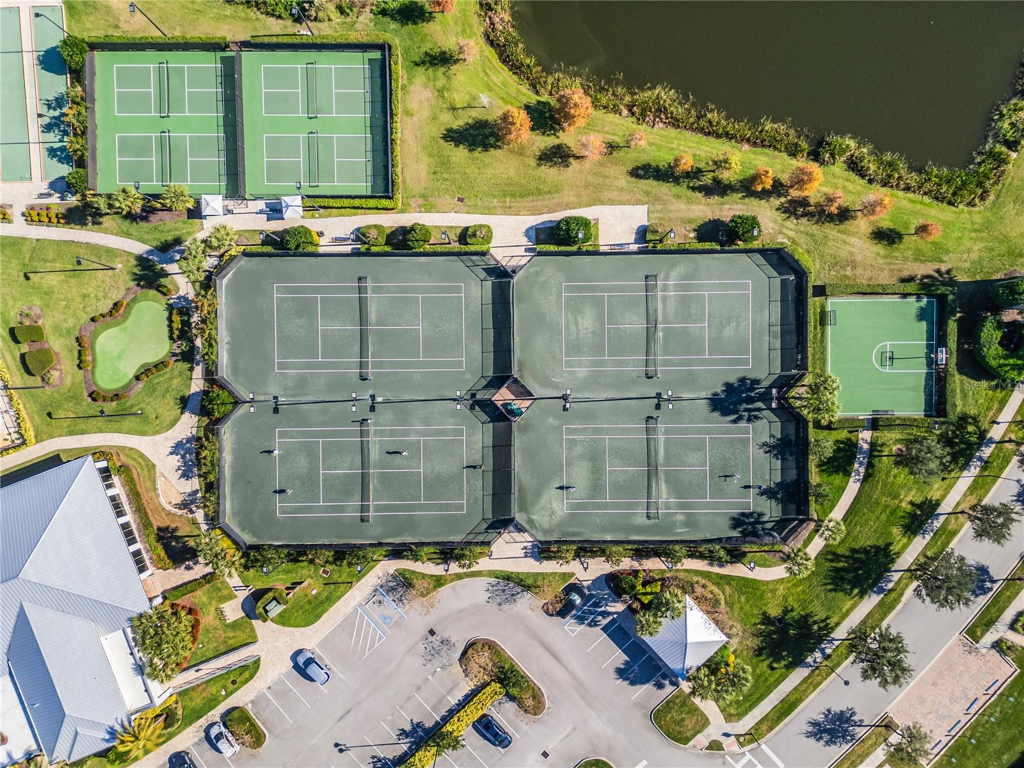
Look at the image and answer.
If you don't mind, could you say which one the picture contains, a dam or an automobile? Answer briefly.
automobile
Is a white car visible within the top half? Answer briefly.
No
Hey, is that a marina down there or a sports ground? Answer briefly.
sports ground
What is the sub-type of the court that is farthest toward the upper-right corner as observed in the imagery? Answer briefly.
basketball court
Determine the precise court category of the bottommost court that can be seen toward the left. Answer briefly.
tennis court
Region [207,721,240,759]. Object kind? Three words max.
car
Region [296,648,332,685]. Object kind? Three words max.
car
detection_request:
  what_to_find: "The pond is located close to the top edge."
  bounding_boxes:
[509,0,1024,182]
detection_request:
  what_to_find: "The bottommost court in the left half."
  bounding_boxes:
[225,399,515,545]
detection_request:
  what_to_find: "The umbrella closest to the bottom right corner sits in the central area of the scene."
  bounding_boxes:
[507,402,522,417]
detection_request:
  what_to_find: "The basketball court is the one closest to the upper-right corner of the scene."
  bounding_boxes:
[827,297,936,417]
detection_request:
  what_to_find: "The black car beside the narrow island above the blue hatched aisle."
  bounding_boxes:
[555,585,591,620]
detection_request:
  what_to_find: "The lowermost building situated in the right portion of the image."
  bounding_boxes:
[642,592,729,680]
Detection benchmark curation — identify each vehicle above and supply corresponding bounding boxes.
[555,585,591,620]
[476,712,509,749]
[207,721,240,759]
[170,749,198,768]
[296,648,332,685]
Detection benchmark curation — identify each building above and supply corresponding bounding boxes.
[0,454,171,766]
[642,592,729,680]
